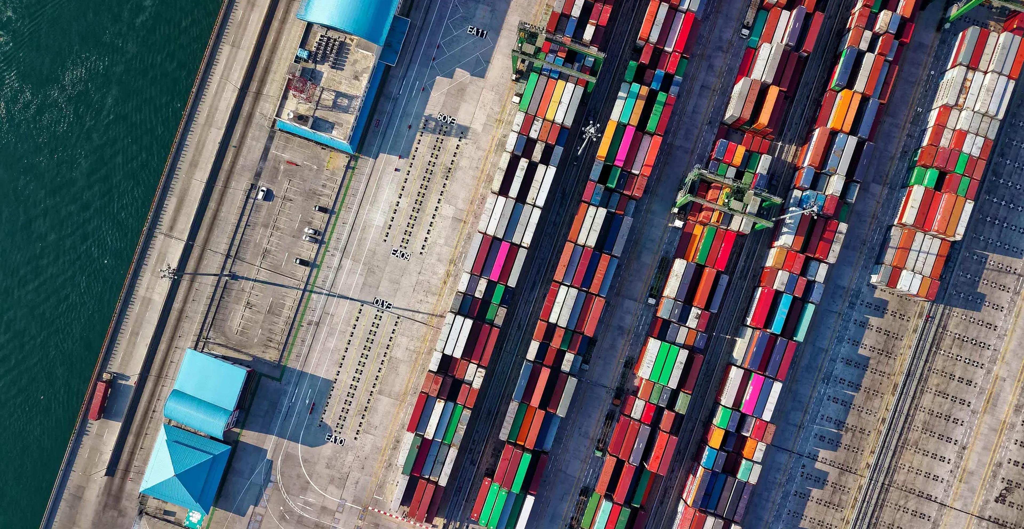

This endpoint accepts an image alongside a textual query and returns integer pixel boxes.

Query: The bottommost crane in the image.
[674,165,791,237]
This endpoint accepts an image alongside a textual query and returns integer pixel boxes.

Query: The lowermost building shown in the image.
[139,423,231,515]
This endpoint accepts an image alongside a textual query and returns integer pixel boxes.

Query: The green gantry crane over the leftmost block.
[509,23,610,105]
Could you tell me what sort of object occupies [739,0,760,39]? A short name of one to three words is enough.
truck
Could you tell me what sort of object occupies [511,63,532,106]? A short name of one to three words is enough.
truck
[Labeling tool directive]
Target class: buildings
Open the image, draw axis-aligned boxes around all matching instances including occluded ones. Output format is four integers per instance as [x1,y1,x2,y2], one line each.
[164,347,257,439]
[275,13,412,155]
[139,423,231,515]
